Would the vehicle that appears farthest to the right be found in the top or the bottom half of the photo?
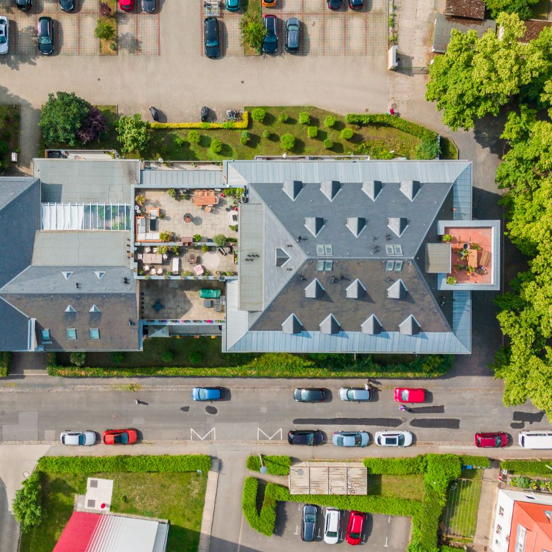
bottom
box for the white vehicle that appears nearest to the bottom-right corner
[518,430,552,449]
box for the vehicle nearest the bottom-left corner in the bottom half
[61,429,96,447]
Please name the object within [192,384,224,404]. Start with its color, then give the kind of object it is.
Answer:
blue car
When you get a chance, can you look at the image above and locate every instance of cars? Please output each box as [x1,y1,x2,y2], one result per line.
[323,508,343,543]
[225,0,241,12]
[293,385,326,405]
[36,16,55,56]
[61,429,96,447]
[374,429,412,448]
[141,0,157,13]
[288,429,324,447]
[59,0,75,13]
[0,15,11,55]
[119,0,135,11]
[284,17,302,53]
[347,512,367,544]
[202,15,223,58]
[332,429,369,448]
[339,384,372,404]
[192,384,224,404]
[473,431,508,449]
[261,0,276,8]
[15,0,33,11]
[261,14,280,55]
[300,505,320,540]
[326,0,343,10]
[394,386,425,405]
[348,0,364,11]
[103,427,137,446]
